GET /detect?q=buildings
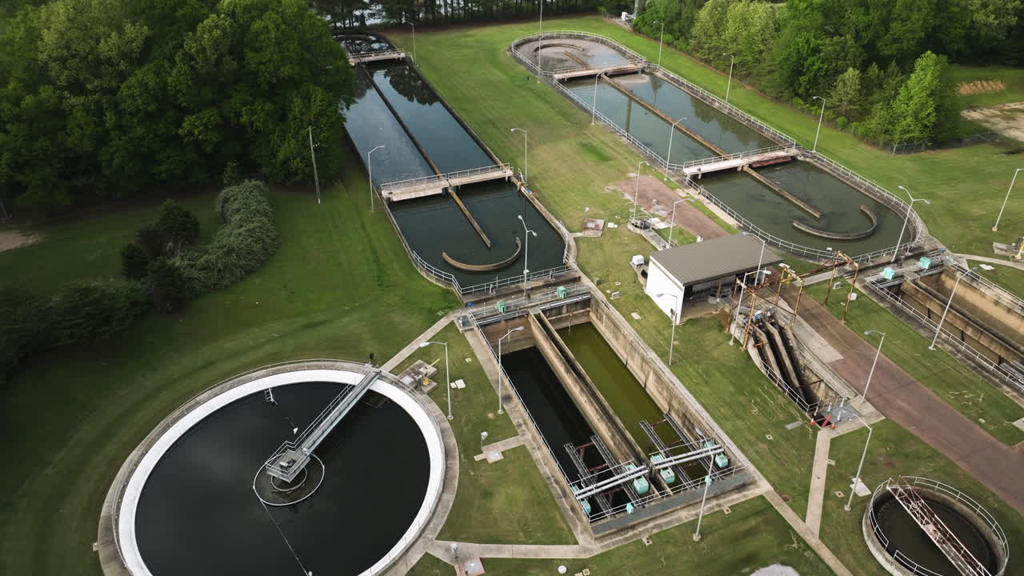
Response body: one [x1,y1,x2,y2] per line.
[645,232,788,324]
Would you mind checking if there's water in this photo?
Yes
